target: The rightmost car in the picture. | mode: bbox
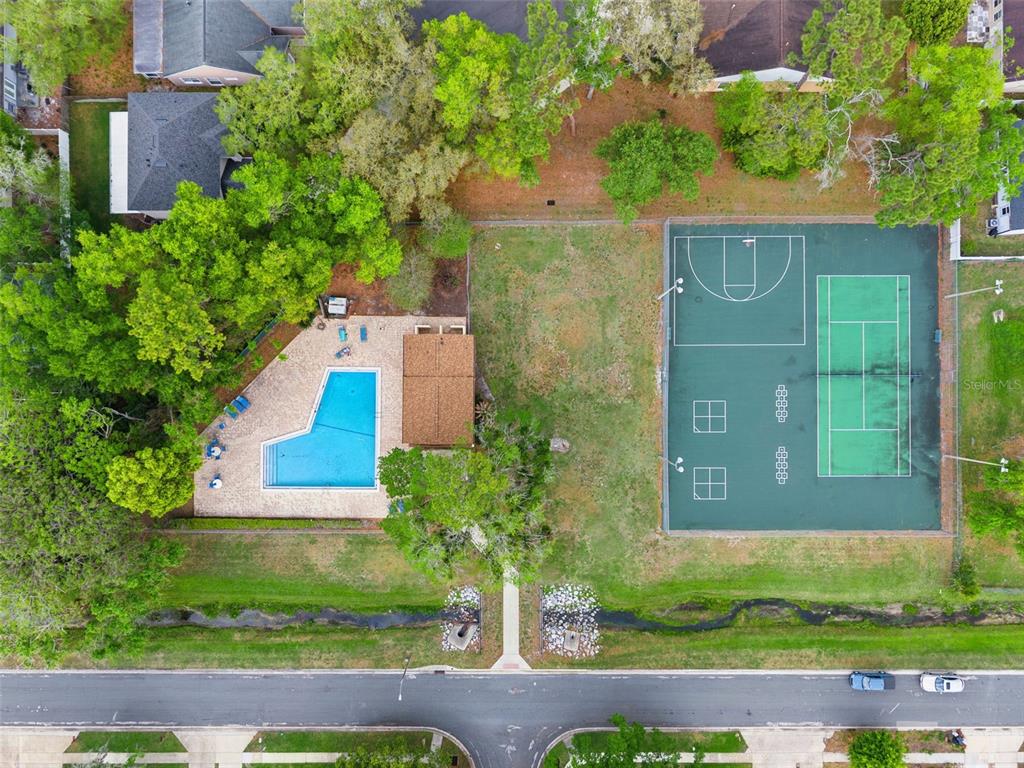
[921,673,966,695]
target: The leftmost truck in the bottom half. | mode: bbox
[850,672,900,694]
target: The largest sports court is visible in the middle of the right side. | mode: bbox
[663,223,942,532]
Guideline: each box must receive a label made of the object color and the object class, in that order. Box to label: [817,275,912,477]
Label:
green tennis court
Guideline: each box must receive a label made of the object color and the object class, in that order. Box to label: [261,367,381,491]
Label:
blue swimming pool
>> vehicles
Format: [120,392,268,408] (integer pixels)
[921,673,966,695]
[850,672,900,694]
